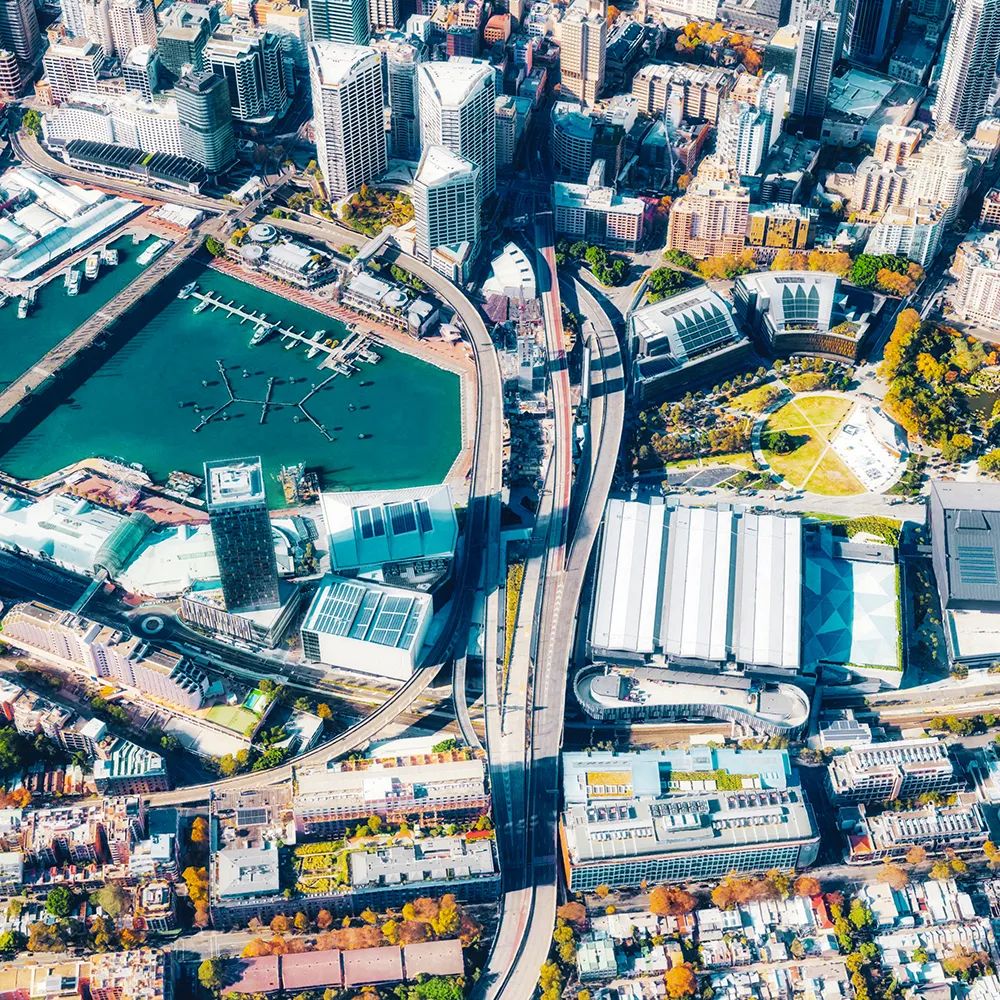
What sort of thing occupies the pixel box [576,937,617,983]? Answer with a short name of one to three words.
house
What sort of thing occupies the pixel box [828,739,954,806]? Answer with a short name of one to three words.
building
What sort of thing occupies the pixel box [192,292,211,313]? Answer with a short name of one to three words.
boat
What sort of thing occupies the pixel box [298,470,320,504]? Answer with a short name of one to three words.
ship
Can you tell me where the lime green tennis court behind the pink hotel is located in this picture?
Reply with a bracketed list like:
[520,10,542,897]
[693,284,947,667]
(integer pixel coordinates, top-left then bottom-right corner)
[204,698,262,731]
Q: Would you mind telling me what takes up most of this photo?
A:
buildings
